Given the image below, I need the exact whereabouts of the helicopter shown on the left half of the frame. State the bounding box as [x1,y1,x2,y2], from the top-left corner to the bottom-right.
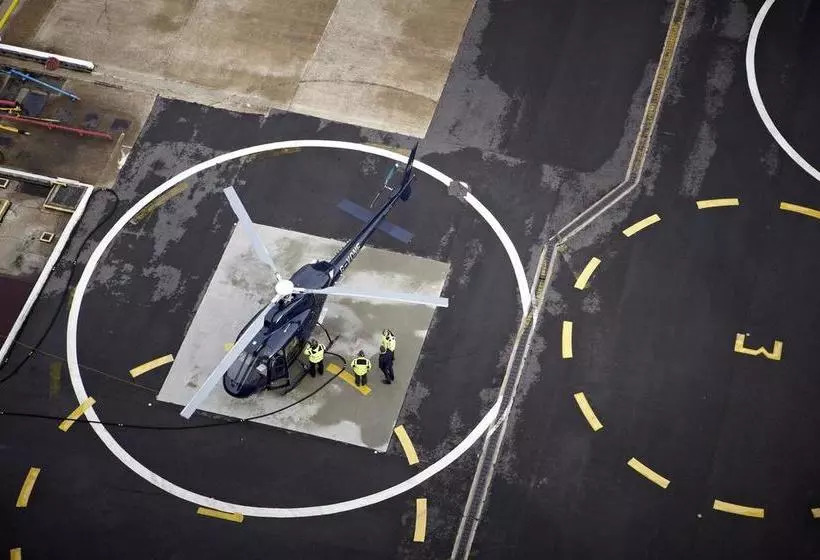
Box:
[183,145,448,416]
